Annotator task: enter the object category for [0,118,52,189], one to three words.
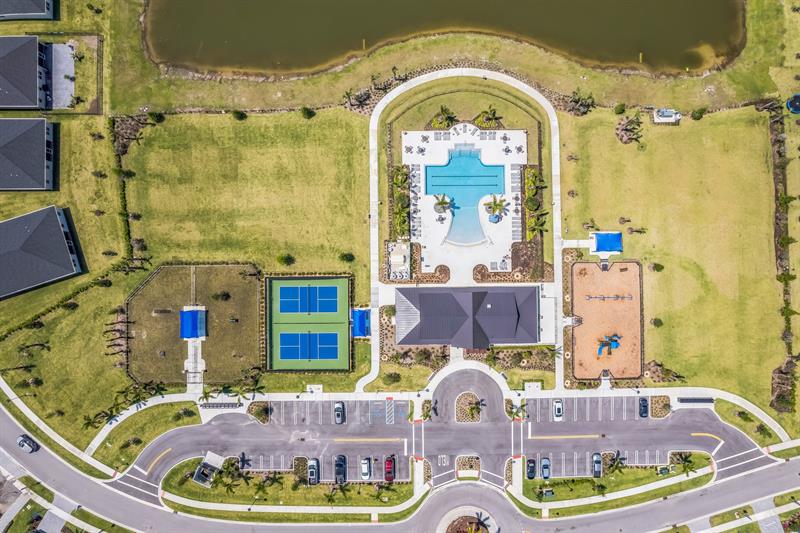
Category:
house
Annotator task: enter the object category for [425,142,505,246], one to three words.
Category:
swimming pool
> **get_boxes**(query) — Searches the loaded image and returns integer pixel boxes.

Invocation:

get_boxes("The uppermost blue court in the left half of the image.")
[280,284,338,314]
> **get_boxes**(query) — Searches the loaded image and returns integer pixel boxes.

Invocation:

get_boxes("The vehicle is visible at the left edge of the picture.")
[19,433,39,453]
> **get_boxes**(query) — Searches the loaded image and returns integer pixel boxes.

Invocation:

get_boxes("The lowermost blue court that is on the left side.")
[280,331,338,362]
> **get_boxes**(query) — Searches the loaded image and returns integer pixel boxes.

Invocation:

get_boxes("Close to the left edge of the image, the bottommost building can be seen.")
[0,206,80,298]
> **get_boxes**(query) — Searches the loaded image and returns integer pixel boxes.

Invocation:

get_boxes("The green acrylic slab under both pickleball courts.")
[269,277,348,370]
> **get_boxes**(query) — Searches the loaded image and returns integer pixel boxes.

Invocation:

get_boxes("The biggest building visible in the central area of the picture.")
[395,287,538,350]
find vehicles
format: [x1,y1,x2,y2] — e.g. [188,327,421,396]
[334,401,345,423]
[309,460,319,481]
[336,456,346,481]
[591,452,602,478]
[19,433,39,453]
[552,399,562,420]
[384,456,395,479]
[637,396,648,417]
[361,457,370,478]
[526,457,536,478]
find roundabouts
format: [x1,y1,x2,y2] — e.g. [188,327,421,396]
[411,481,523,533]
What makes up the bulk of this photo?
grass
